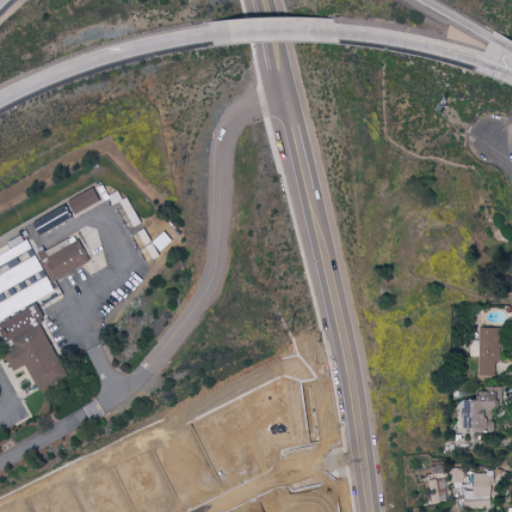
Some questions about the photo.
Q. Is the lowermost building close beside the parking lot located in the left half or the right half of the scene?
left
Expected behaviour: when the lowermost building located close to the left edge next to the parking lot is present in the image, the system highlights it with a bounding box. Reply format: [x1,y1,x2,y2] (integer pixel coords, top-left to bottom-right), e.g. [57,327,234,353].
[0,302,66,389]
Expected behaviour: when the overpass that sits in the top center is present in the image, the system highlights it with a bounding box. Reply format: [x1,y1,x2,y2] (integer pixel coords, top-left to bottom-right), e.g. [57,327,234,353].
[214,17,336,48]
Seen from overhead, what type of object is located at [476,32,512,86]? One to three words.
bridge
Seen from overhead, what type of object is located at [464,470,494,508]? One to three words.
house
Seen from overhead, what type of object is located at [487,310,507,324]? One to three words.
swimming pool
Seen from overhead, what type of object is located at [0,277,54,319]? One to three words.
building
